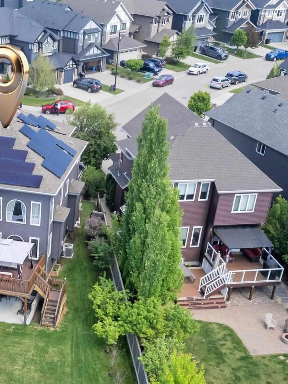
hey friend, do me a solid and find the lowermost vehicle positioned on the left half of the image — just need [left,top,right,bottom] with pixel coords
[42,97,74,111]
